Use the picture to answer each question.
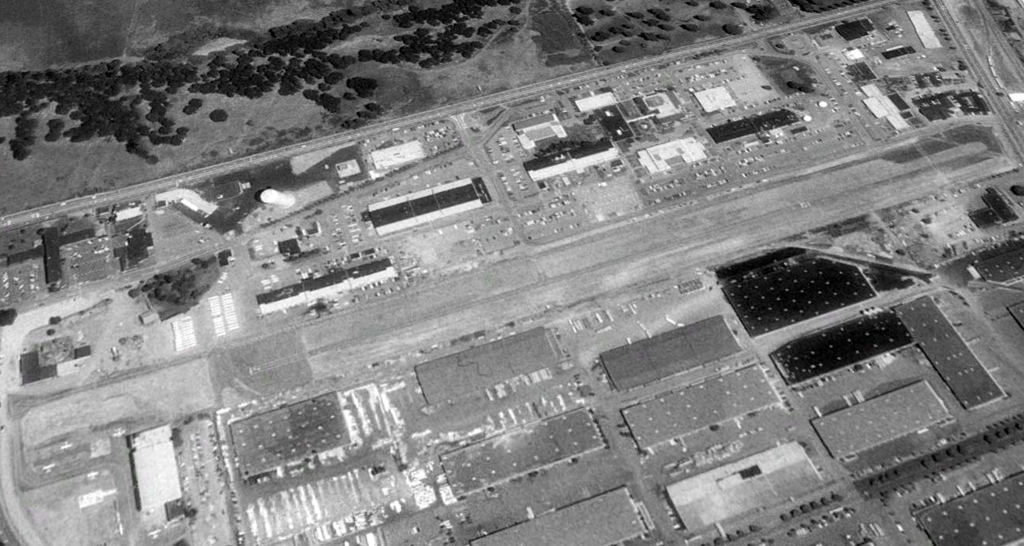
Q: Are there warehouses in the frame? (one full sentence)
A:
Yes, there's a warehouse down there.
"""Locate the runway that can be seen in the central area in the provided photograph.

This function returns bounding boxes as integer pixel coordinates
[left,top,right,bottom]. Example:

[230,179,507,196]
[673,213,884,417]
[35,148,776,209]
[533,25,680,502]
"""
[249,187,834,373]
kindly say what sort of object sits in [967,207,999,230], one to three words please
building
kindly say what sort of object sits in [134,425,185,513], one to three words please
hangar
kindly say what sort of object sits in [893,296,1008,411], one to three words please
warehouse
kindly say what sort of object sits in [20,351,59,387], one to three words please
house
